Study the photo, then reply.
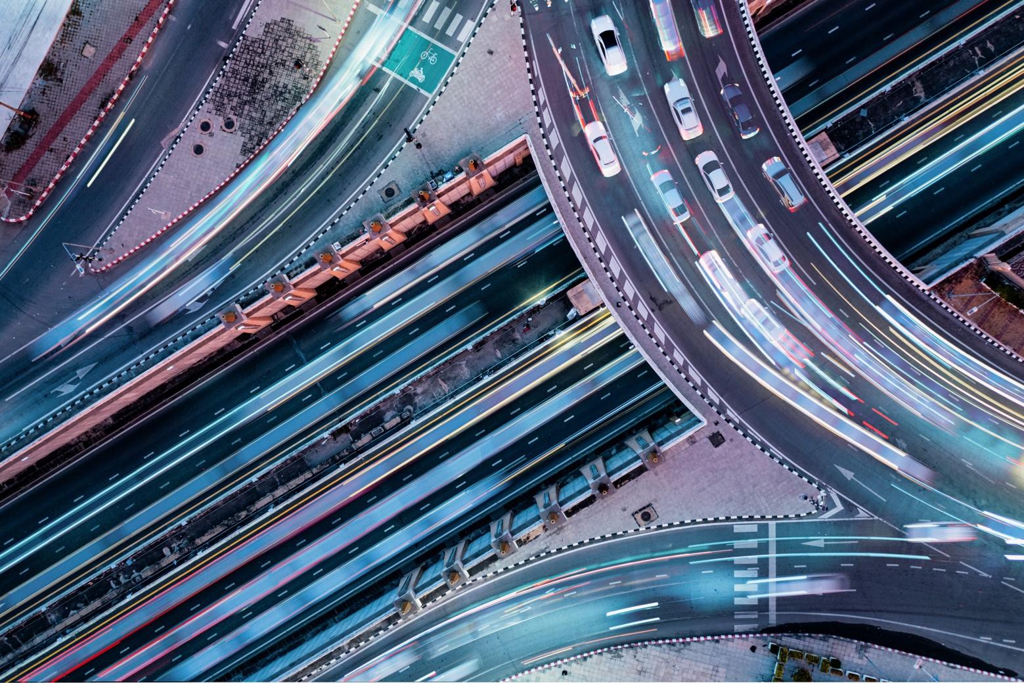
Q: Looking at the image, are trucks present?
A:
Yes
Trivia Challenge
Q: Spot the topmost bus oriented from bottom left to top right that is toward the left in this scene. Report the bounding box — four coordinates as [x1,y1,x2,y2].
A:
[345,0,423,78]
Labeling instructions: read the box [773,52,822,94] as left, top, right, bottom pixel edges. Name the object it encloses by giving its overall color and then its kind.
blue truck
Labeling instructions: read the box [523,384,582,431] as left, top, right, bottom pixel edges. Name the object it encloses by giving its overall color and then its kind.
blue van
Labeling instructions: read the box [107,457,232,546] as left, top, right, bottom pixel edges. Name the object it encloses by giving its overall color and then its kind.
blue bus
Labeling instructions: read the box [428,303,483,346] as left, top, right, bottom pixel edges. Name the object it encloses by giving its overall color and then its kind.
blue car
